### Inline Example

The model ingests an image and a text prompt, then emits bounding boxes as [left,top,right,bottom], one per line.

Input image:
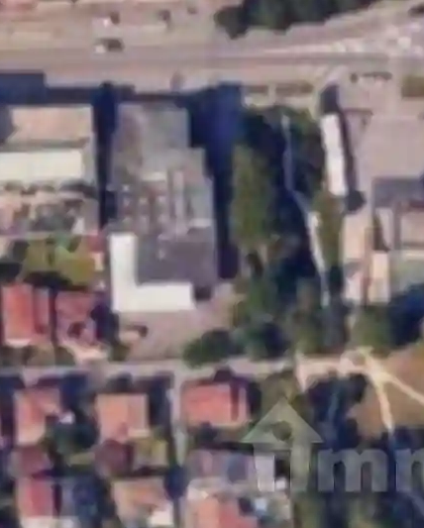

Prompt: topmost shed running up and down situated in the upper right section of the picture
[323,85,349,201]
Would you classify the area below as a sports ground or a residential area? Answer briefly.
residential area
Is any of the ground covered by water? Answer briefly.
No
